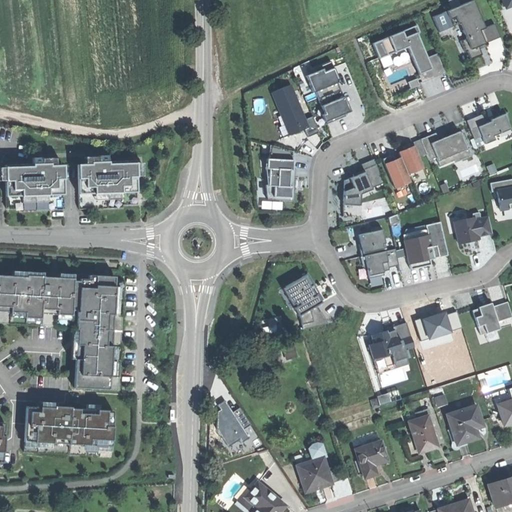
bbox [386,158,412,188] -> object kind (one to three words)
house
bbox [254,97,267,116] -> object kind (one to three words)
swimming pool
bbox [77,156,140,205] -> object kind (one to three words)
building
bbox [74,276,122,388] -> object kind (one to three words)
building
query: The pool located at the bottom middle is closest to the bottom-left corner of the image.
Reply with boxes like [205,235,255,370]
[224,483,241,499]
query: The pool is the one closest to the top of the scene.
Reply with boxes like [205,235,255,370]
[386,68,409,84]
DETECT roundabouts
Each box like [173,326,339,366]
[160,206,234,280]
